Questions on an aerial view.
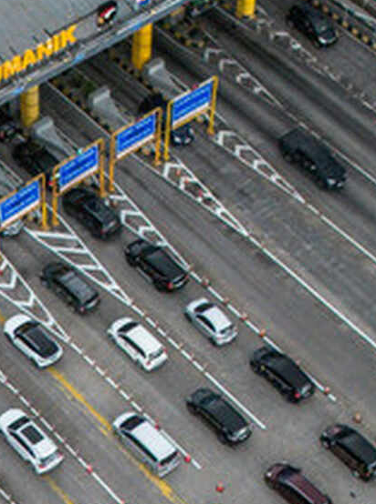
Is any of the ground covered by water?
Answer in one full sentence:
No, water can't be seen anywhere here.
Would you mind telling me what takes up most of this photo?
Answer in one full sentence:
For the most part, this view shows paved ground.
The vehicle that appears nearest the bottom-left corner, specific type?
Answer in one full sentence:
From above, the vehicle that appears nearest the bottom-left corner can be identified as an automobile.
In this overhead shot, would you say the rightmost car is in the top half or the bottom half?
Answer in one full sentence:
You can find the rightmost car in the bottom half.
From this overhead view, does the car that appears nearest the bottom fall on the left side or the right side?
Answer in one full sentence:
The car that appears nearest the bottom is on the right side of the image.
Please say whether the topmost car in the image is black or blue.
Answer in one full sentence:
The topmost car is black.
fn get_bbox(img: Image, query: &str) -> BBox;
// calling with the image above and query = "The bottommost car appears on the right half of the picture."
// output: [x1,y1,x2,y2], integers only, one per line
[265,463,329,504]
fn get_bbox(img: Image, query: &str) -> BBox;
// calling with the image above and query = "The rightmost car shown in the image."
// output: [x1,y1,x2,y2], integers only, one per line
[319,423,376,483]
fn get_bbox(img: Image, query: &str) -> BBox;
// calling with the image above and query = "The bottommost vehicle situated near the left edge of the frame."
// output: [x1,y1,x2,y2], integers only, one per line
[1,415,57,470]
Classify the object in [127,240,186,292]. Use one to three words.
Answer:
car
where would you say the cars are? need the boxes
[5,316,59,367]
[42,262,100,315]
[5,135,60,182]
[252,349,313,403]
[282,126,341,182]
[265,463,329,504]
[188,390,252,448]
[285,0,336,45]
[114,415,177,475]
[319,423,376,483]
[1,415,57,470]
[127,240,186,292]
[66,191,121,239]
[185,302,235,346]
[0,218,27,240]
[109,322,164,374]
